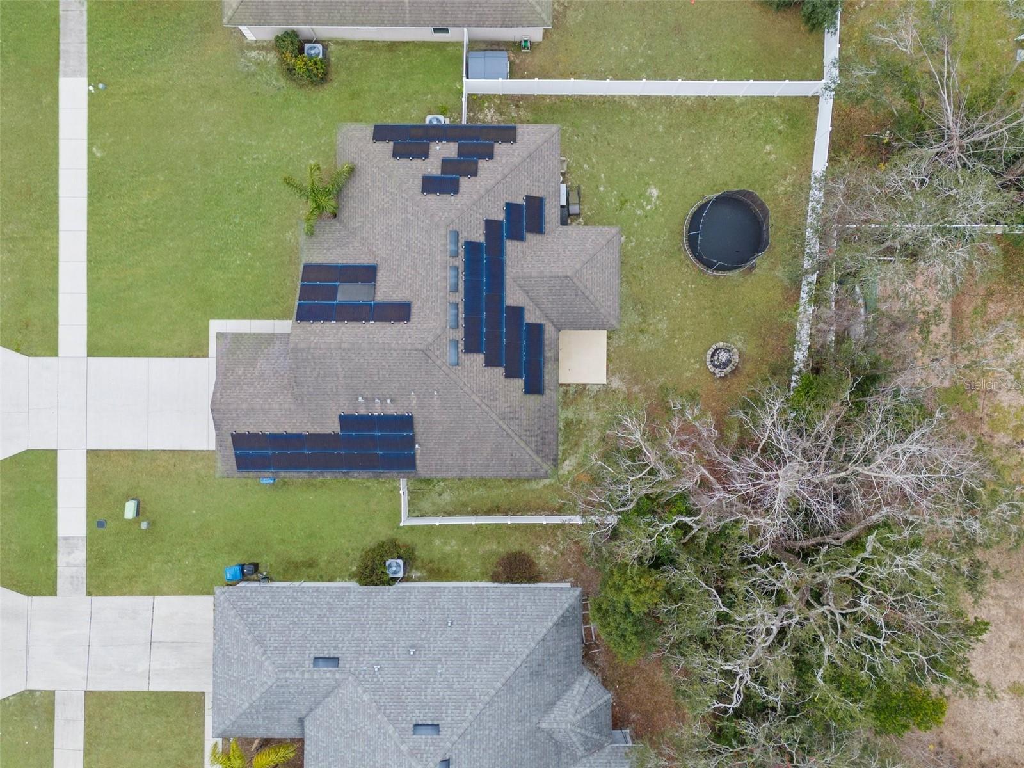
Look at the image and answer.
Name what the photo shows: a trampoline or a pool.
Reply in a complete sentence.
It is a trampoline that can be seen here.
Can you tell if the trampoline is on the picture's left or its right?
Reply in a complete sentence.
It is on the right.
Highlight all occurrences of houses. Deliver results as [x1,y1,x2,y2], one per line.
[210,124,621,478]
[223,0,552,42]
[213,580,643,768]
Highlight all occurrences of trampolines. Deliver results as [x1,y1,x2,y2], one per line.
[679,189,770,279]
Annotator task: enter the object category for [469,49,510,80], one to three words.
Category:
shed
